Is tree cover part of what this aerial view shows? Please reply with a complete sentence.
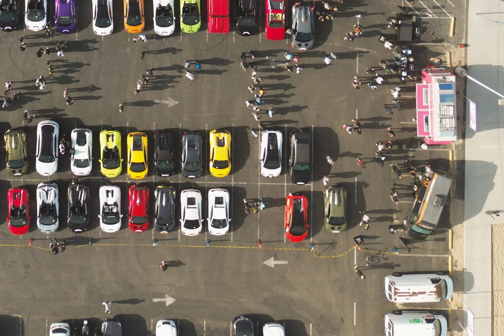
No, the scene doesn't show any tree cover.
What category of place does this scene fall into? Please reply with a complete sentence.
The area seen from above is a parking lot.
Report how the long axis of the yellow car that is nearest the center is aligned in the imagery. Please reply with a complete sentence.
Seen from above, the yellow car that is nearest the center lies from top to bottom.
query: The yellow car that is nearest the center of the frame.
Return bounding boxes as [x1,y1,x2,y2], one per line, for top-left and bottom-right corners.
[209,129,232,176]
